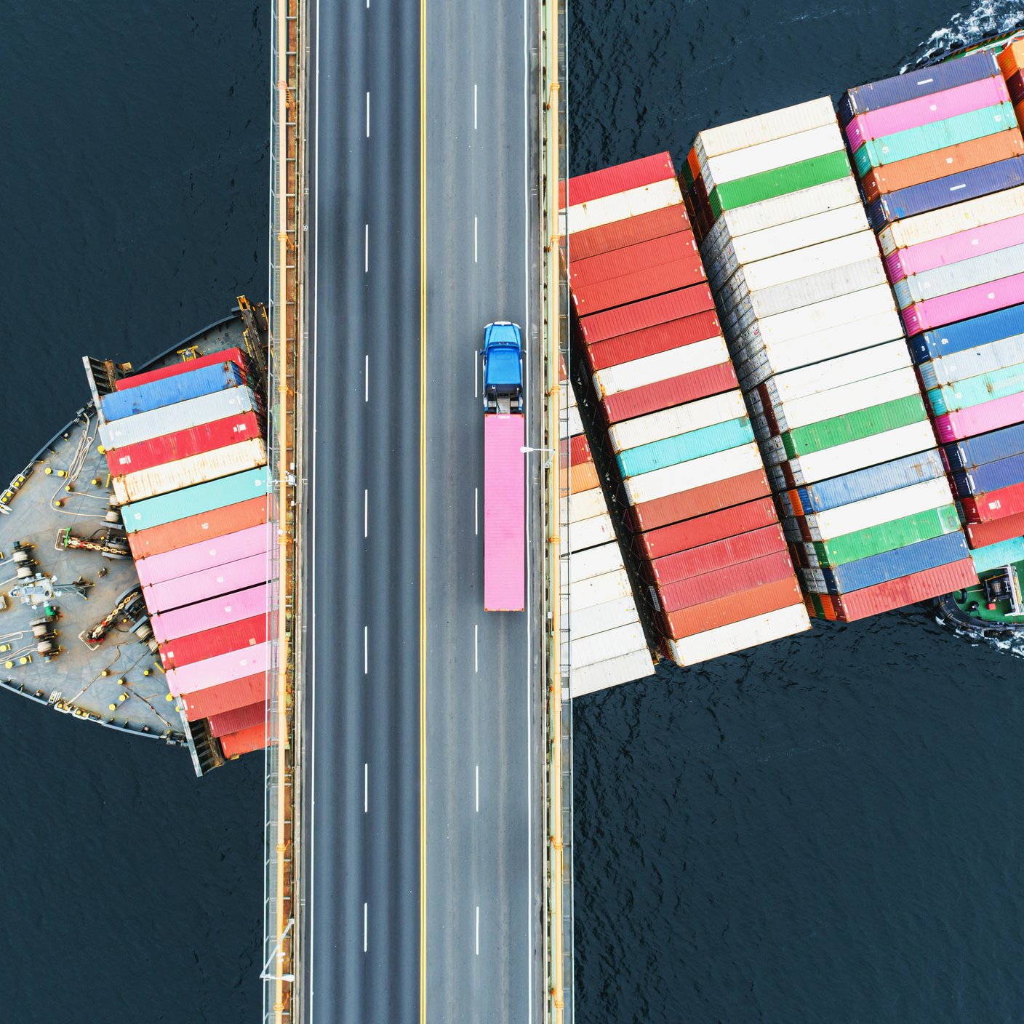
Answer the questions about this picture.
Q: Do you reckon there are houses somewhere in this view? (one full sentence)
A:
No, there isn't any house down there.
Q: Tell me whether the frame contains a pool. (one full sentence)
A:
No, no pool is visible in the view.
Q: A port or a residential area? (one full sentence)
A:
The picture captures a port.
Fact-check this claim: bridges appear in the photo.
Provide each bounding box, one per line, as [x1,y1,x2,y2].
[265,0,575,1024]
